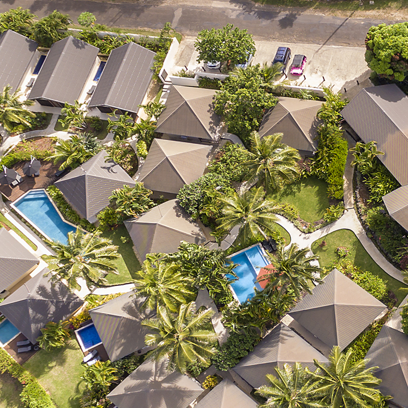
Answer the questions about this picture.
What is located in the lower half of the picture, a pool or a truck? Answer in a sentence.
You can see a pool in the lower half of the picture.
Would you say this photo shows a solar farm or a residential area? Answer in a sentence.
It's a residential area.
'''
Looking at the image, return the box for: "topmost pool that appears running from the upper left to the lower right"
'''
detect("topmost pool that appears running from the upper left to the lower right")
[7,187,89,260]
